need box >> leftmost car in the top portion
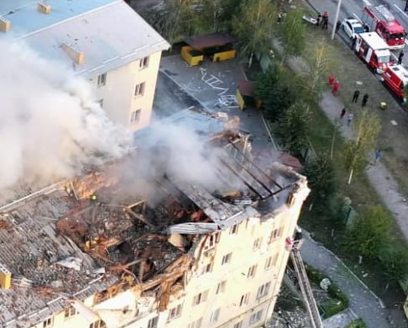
[340,19,364,37]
